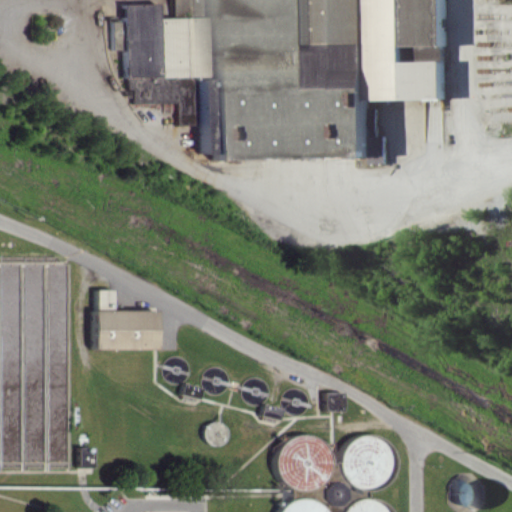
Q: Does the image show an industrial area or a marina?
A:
industrial area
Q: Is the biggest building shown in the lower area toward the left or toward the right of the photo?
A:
left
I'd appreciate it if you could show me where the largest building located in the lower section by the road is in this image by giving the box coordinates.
[97,310,166,350]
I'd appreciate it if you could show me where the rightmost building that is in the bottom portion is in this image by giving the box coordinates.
[328,392,349,412]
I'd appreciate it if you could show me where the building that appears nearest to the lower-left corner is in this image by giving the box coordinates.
[82,446,98,468]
